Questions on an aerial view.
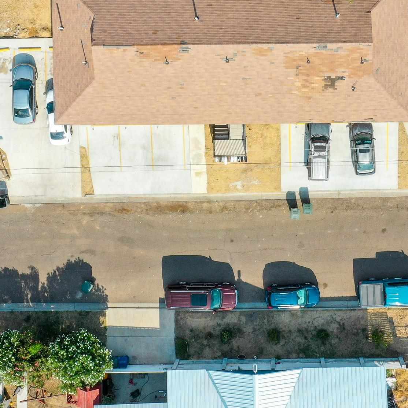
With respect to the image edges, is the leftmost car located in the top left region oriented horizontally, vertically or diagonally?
vertically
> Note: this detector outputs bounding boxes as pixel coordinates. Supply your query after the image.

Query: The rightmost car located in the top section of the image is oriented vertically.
[348,123,376,180]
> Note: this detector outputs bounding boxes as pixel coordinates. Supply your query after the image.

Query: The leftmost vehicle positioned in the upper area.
[9,62,40,126]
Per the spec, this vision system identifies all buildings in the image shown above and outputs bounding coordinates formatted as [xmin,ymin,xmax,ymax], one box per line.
[53,0,408,125]
[93,364,388,408]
